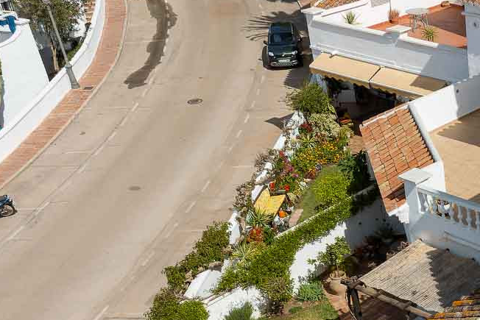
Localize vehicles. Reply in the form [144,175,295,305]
[0,192,17,216]
[257,8,300,62]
